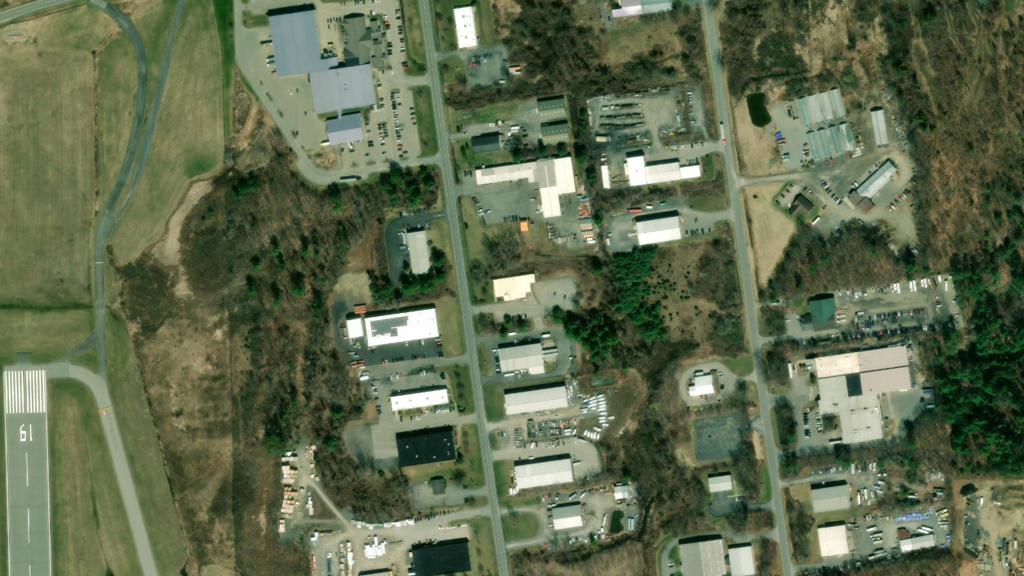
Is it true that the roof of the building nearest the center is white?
Yes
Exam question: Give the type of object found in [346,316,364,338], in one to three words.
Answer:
shed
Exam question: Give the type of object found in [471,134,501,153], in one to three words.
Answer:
house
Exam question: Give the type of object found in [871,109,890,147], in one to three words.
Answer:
barn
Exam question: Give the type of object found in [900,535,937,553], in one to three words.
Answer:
building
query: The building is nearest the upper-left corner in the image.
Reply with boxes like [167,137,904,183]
[268,8,338,75]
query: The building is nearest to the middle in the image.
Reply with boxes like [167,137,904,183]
[493,274,536,301]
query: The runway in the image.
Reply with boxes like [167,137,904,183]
[3,370,51,576]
